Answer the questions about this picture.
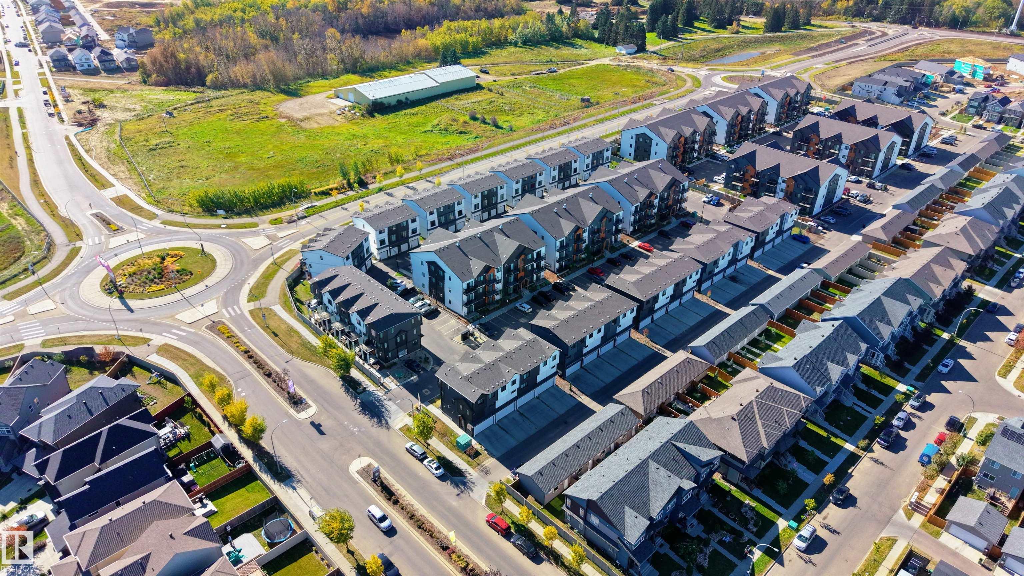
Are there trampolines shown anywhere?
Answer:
Yes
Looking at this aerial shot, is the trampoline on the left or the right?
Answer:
left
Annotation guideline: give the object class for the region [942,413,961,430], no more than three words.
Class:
vehicle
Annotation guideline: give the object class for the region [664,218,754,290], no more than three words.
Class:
house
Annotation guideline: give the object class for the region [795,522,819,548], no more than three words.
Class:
car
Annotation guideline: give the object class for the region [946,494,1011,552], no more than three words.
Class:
building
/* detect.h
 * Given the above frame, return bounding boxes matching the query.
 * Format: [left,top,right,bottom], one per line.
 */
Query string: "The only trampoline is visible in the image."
[251,513,278,539]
